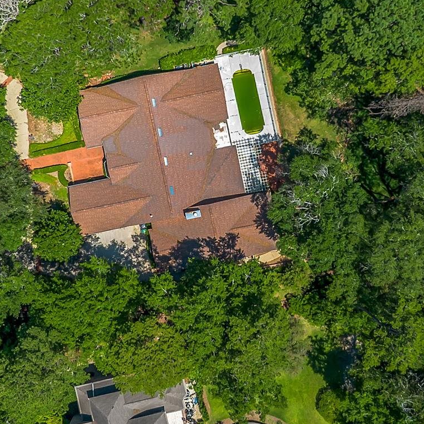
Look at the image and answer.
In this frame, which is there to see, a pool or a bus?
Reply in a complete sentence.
The image shows a pool.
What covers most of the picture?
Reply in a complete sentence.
Most of the picture is covered by trees.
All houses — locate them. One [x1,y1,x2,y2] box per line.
[69,65,288,288]
[74,373,186,424]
